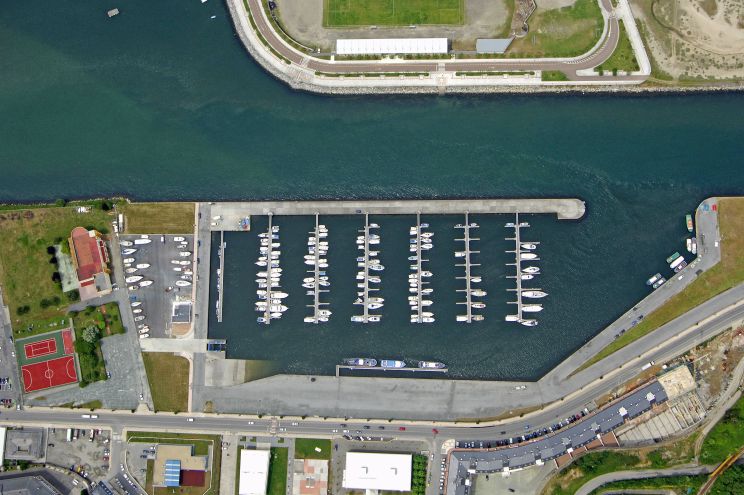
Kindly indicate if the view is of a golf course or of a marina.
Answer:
marina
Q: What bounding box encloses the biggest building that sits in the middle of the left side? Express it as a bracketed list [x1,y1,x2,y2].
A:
[68,227,112,293]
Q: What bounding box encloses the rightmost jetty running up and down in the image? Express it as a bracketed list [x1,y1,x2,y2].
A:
[504,212,542,321]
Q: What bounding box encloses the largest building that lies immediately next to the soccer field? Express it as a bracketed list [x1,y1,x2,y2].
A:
[476,39,511,54]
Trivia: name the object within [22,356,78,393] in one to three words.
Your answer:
sports court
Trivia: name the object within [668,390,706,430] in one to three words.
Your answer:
building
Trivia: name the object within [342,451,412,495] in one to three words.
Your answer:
building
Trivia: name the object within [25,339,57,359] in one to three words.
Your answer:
tennis court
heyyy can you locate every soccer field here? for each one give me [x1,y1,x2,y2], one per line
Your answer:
[323,0,466,27]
